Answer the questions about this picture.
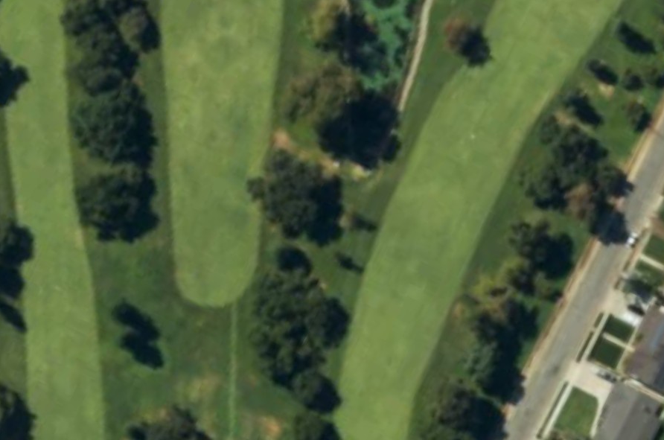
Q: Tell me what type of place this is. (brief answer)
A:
golf course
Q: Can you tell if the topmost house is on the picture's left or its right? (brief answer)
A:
right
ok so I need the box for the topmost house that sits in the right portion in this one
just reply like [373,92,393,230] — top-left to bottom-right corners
[620,306,664,393]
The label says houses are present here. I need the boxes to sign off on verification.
[590,382,663,440]
[620,306,664,393]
